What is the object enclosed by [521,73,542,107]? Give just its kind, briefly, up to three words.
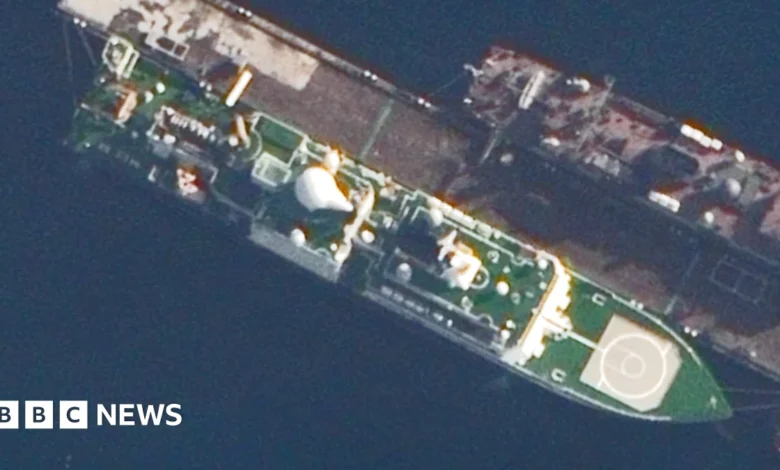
boat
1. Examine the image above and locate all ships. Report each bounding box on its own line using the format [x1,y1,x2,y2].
[463,45,780,266]
[66,37,731,420]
